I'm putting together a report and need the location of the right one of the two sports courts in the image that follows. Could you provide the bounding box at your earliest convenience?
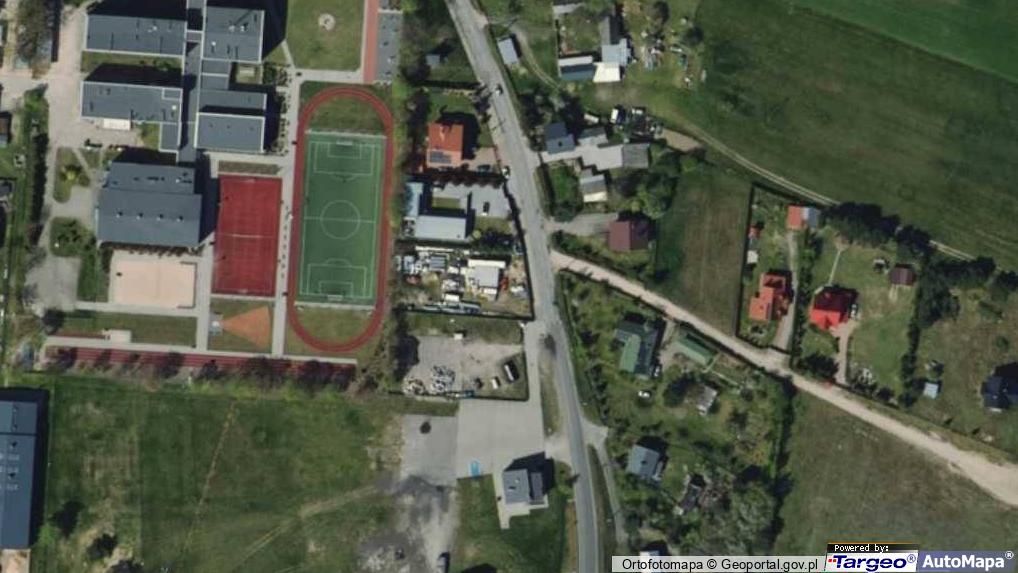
[212,177,281,296]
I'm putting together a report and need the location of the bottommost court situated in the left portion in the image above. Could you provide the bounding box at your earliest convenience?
[108,249,203,310]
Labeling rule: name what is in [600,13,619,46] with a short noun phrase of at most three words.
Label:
barn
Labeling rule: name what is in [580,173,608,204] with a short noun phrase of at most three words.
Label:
house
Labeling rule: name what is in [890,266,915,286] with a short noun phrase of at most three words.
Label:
shed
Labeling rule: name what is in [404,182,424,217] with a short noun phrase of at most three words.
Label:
building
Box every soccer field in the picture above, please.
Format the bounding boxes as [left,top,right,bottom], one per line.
[294,125,388,310]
